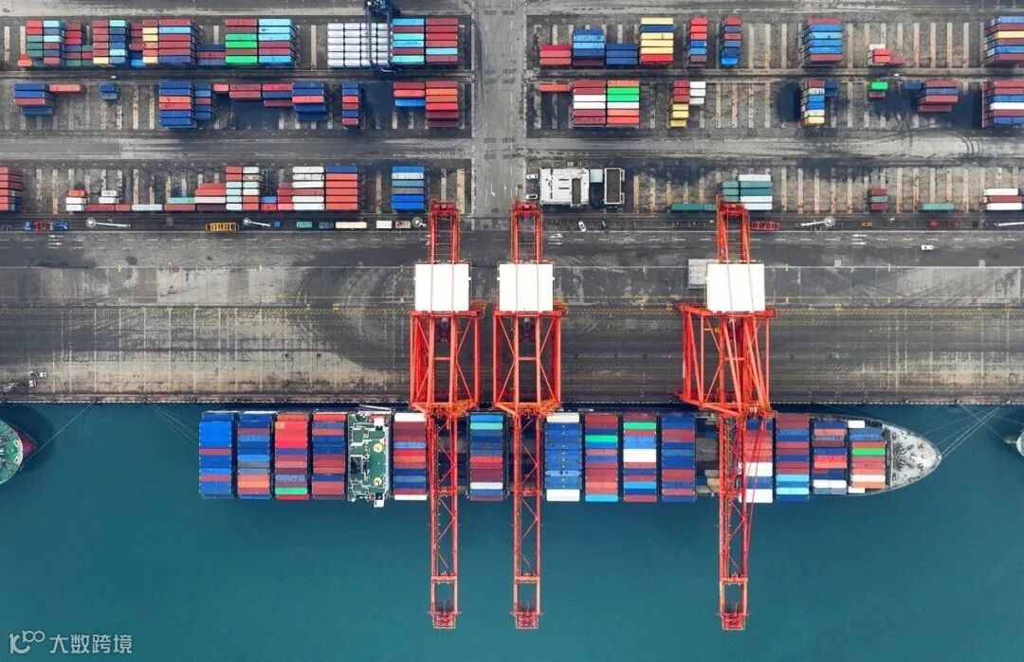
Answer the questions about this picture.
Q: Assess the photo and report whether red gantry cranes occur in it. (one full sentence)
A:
Yes, there's a red gantry crane down there.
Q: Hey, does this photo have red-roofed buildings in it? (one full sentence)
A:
No, I find no red-roofed building anywhere in the image.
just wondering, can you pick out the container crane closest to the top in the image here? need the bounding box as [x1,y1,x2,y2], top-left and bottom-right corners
[366,0,402,78]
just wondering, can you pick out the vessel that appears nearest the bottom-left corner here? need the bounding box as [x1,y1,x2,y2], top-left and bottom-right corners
[0,419,42,483]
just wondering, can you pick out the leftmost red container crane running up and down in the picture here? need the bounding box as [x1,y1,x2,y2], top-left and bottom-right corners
[410,198,490,628]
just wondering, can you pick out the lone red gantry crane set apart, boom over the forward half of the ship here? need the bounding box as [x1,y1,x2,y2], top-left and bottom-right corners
[673,198,773,628]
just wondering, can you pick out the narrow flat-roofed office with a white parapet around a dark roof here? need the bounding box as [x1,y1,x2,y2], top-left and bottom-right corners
[603,168,624,205]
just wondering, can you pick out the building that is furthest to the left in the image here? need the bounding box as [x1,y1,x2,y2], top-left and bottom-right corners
[540,162,589,204]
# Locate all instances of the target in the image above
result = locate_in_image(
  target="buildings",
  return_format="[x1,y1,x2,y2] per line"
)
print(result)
[540,162,589,204]
[603,168,624,205]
